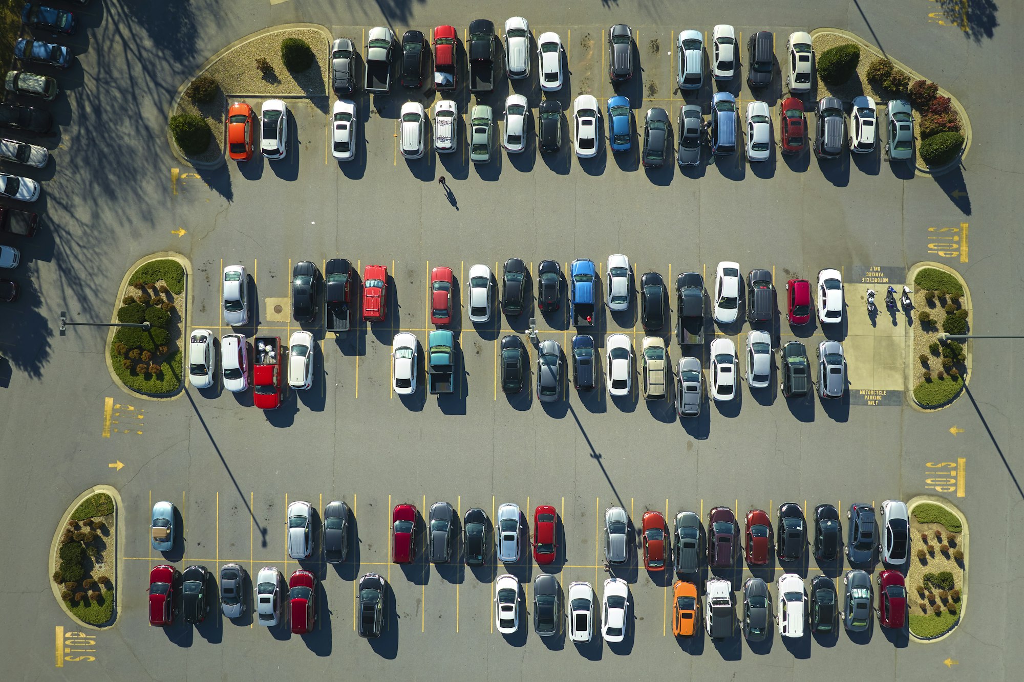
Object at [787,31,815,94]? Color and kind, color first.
white car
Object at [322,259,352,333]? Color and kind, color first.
black truck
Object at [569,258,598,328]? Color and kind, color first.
blue truck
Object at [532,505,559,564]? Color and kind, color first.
red car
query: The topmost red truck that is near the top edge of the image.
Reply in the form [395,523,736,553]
[430,24,459,94]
